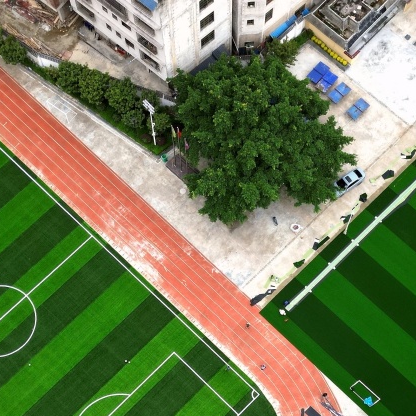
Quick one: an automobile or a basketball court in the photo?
automobile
